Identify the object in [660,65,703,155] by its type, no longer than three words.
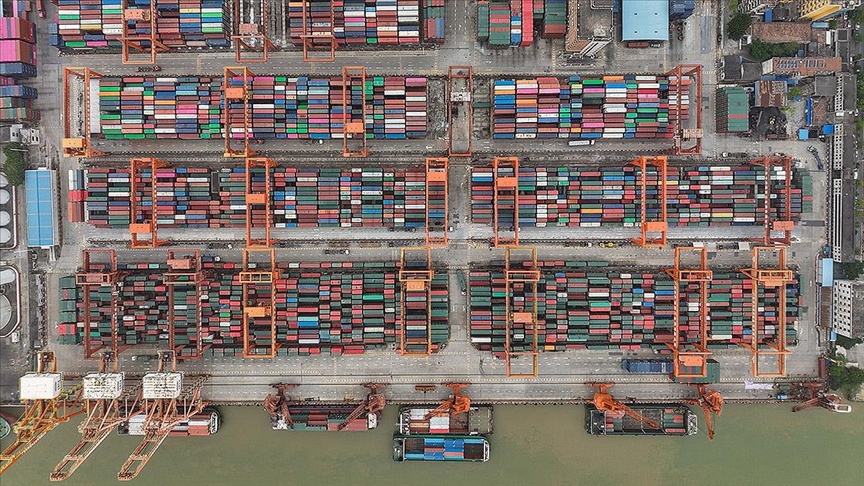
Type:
container crane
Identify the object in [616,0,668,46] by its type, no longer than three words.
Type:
building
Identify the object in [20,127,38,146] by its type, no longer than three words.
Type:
house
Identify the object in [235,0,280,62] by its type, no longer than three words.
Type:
container crane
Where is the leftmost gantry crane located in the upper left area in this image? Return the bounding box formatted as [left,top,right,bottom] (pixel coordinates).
[60,66,111,158]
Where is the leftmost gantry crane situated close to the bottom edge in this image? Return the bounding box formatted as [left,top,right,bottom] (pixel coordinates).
[0,350,95,477]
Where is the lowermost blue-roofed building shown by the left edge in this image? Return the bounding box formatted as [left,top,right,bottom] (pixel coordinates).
[24,166,66,249]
